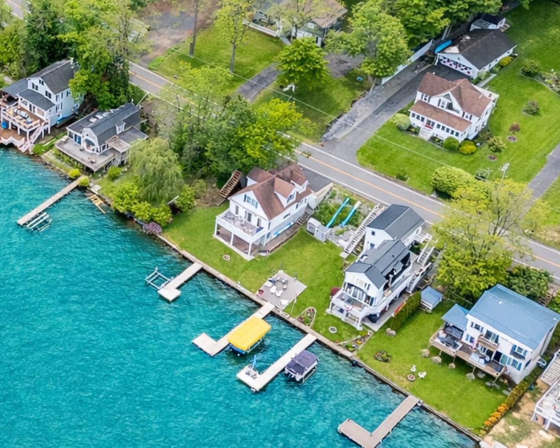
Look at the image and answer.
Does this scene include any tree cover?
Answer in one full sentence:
Yes, there is tree cover in the image.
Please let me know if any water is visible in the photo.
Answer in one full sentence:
Yes, water shows up in the scene.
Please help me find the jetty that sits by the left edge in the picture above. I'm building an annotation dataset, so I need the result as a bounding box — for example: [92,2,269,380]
[17,181,79,229]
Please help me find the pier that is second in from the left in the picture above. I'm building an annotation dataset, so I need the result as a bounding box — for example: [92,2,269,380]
[157,263,203,305]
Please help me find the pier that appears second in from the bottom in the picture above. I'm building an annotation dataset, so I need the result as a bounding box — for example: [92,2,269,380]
[235,335,317,395]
